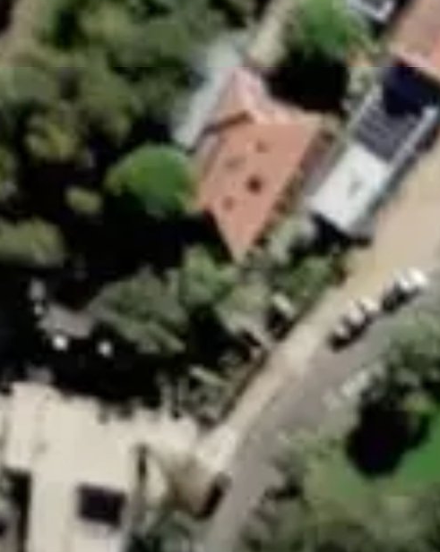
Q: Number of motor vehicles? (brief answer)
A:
2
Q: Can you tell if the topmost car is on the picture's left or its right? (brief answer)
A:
right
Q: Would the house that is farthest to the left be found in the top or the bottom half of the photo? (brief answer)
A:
top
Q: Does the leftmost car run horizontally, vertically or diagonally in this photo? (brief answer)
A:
diagonally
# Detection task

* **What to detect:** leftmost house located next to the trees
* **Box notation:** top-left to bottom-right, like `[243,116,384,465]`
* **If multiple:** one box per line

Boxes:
[172,42,328,261]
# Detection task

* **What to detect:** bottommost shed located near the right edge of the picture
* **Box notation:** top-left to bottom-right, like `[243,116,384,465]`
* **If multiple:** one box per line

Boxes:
[306,70,440,240]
